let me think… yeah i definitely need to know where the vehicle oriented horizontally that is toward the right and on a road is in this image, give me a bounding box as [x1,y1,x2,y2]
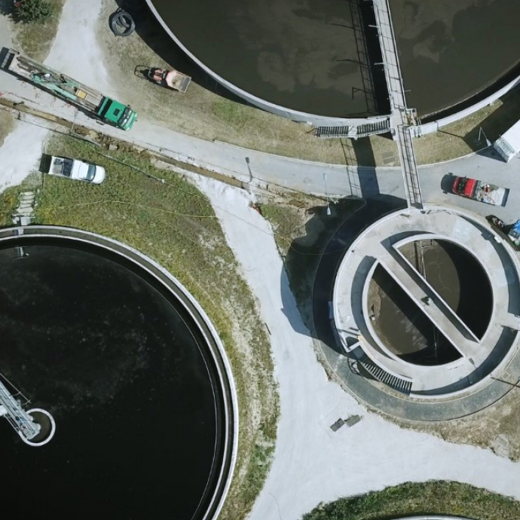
[450,176,508,206]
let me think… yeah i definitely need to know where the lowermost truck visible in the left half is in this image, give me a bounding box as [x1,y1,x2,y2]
[47,155,109,184]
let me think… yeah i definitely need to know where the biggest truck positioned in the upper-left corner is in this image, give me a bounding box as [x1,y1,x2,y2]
[1,48,140,133]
